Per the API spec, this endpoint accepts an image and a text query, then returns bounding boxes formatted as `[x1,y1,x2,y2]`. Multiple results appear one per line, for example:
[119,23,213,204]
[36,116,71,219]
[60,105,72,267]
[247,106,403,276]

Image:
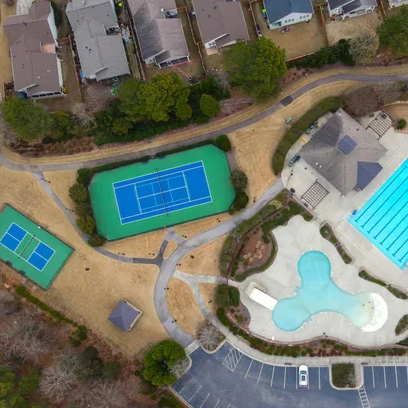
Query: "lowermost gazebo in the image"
[107,298,146,332]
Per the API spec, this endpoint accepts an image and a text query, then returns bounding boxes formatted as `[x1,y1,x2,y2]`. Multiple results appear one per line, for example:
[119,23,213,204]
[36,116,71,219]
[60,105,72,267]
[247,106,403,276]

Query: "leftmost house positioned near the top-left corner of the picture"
[4,2,64,98]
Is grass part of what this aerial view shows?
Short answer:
Yes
